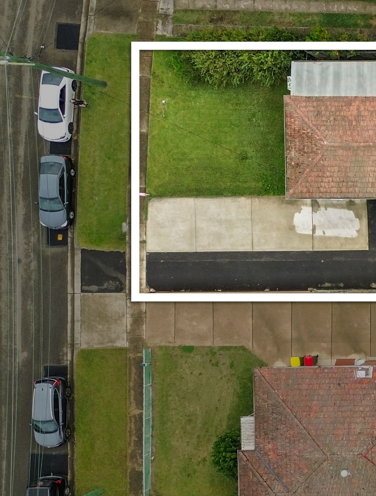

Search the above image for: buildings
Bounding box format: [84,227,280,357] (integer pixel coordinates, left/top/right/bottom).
[284,94,376,201]
[235,365,376,496]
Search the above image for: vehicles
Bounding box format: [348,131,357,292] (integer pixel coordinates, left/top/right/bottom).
[34,65,80,143]
[34,153,79,231]
[25,476,72,496]
[29,376,73,447]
